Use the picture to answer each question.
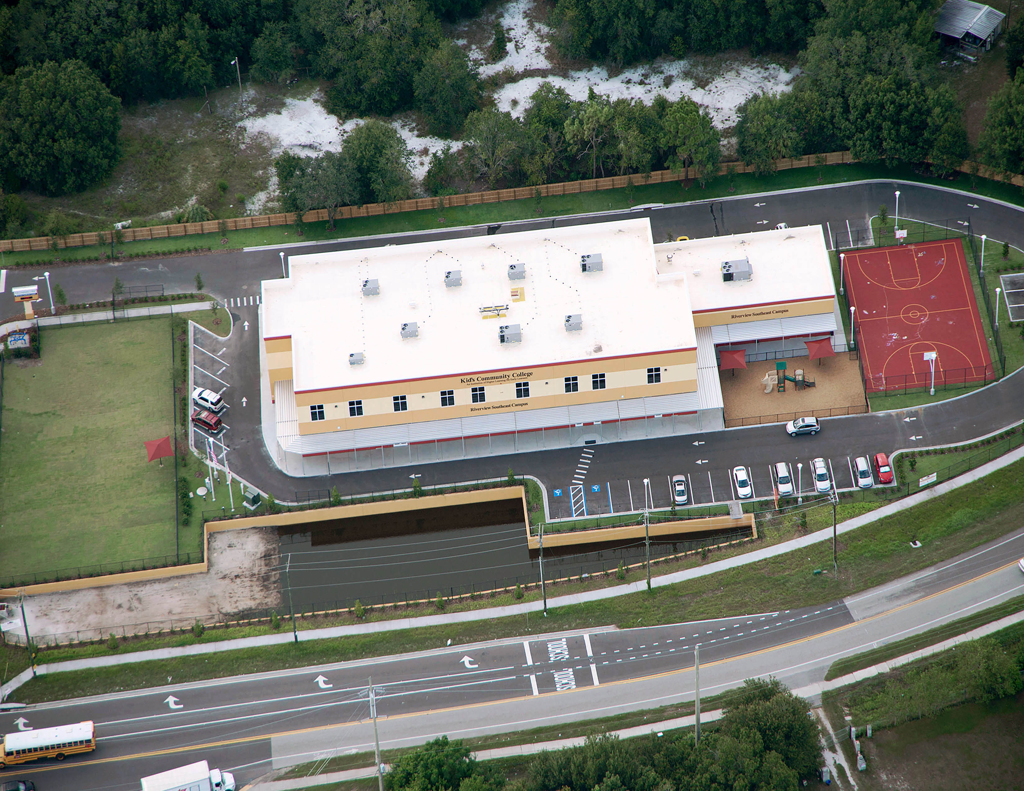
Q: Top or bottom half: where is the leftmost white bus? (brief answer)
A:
bottom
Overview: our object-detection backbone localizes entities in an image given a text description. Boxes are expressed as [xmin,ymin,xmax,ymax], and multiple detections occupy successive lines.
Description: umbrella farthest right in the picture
[804,337,835,366]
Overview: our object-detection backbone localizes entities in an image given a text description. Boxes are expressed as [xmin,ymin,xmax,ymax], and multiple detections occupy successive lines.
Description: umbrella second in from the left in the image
[719,349,747,376]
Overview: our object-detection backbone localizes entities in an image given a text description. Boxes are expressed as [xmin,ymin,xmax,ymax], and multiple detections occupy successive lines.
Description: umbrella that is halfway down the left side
[144,436,174,467]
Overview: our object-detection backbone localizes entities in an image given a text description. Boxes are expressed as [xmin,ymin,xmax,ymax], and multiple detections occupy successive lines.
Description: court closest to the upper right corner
[840,238,995,392]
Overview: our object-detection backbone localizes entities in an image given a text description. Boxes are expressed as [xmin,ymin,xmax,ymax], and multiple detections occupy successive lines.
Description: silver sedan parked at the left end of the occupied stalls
[671,472,689,504]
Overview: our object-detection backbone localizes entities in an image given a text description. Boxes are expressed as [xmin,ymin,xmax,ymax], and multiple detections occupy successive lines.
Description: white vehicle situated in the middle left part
[190,386,225,411]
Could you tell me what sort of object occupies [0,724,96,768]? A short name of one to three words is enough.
bus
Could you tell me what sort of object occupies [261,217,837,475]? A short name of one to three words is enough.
building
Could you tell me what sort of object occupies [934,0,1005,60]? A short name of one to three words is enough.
shed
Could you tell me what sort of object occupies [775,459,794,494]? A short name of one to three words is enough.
car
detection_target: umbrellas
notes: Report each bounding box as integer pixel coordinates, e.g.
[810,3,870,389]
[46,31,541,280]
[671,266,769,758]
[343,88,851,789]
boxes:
[719,349,747,376]
[804,337,835,366]
[144,436,174,467]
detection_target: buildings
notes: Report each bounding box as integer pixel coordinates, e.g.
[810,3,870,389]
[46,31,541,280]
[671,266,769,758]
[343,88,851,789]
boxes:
[934,0,1005,60]
[261,217,837,475]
